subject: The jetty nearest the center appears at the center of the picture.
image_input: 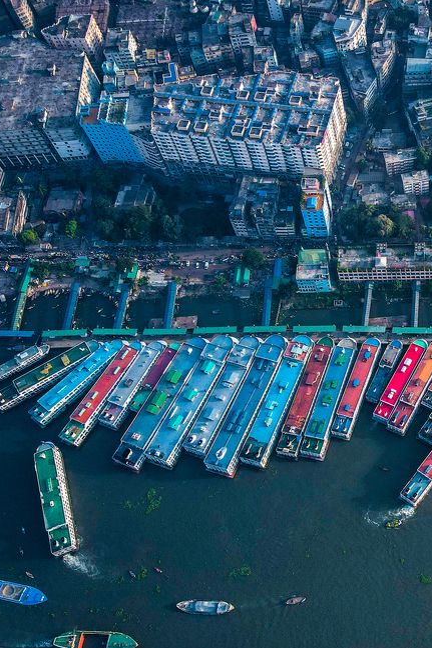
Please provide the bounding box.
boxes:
[192,326,241,347]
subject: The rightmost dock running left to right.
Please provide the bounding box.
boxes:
[388,326,432,347]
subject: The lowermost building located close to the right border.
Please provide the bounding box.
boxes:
[337,245,432,281]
